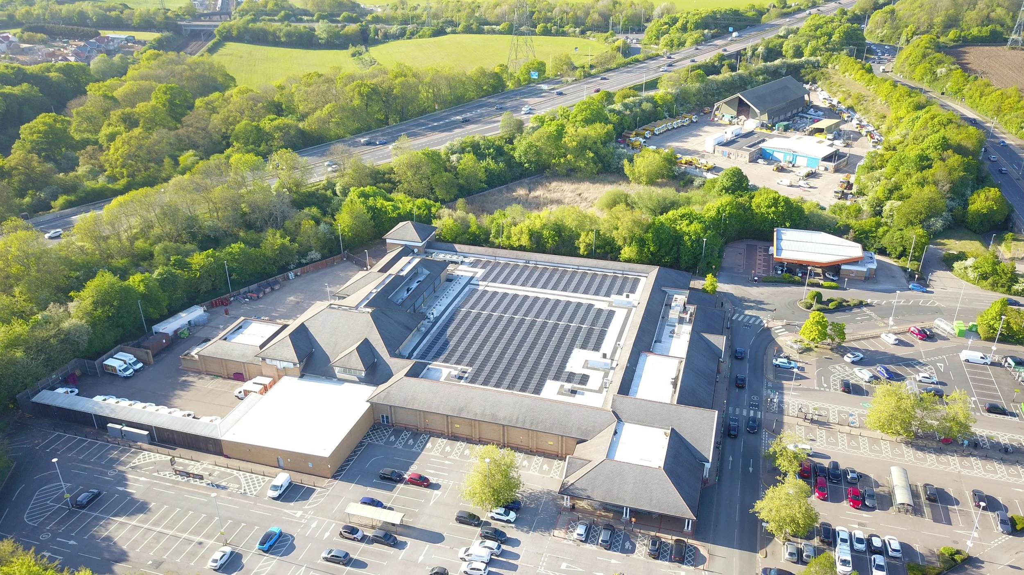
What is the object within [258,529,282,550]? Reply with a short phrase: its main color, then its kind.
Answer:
blue car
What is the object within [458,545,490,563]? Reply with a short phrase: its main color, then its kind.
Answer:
white vehicle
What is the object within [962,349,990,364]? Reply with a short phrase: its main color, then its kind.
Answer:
white vehicle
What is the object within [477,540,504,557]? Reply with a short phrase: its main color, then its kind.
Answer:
white car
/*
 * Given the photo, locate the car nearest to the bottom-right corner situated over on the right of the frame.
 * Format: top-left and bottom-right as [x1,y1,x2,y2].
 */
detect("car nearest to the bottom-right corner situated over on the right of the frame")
[993,511,1013,535]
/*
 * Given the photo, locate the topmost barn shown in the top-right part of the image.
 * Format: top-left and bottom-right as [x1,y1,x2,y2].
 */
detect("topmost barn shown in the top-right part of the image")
[712,75,809,122]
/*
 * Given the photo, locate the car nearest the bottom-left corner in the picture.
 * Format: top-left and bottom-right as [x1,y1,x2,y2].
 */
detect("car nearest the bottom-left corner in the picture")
[72,489,101,510]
